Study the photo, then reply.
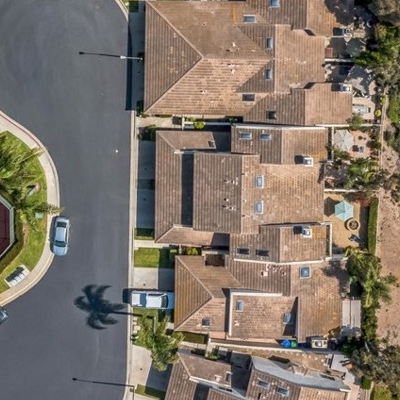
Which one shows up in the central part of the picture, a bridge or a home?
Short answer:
home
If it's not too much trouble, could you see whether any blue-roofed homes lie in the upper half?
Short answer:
No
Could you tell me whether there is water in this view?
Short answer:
No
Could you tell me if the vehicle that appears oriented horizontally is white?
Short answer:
Yes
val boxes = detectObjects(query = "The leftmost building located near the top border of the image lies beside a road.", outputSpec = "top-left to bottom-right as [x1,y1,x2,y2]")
[144,0,353,124]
